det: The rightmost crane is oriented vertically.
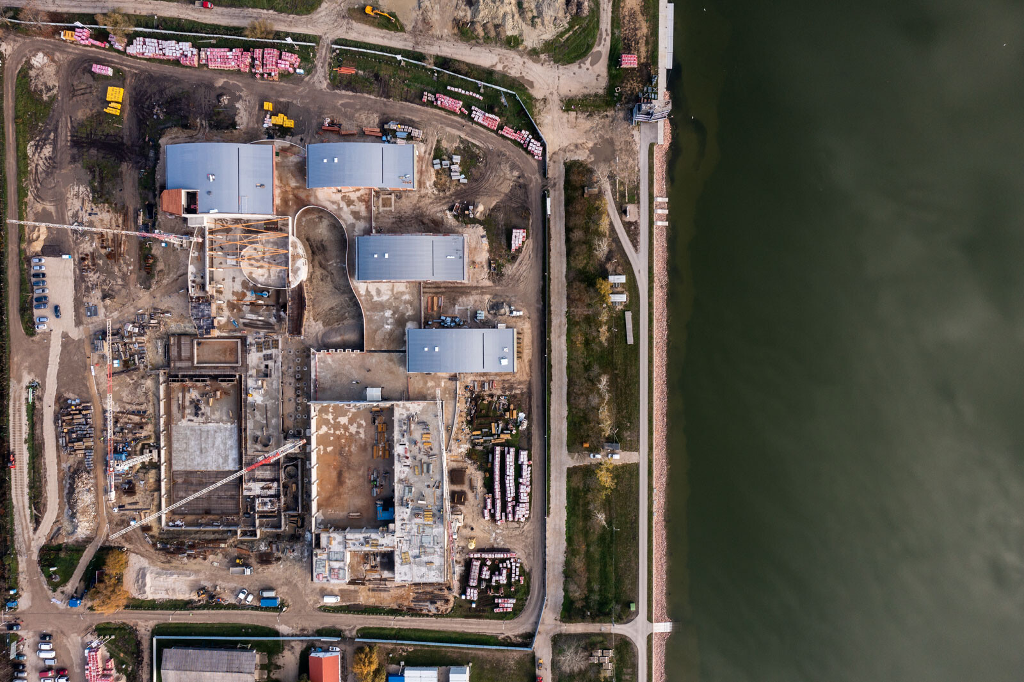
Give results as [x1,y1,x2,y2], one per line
[436,388,468,580]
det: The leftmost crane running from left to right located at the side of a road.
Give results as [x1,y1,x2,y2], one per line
[7,219,203,254]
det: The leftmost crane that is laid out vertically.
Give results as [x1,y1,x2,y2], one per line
[103,320,161,499]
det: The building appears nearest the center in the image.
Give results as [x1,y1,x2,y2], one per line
[406,329,516,373]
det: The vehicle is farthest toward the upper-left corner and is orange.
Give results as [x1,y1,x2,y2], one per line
[58,30,78,42]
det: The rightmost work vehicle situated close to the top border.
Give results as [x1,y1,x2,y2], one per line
[364,6,400,24]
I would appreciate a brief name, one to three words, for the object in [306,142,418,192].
building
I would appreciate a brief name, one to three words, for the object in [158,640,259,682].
shed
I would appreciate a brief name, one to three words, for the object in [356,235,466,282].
building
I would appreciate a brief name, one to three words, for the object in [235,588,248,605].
vehicle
